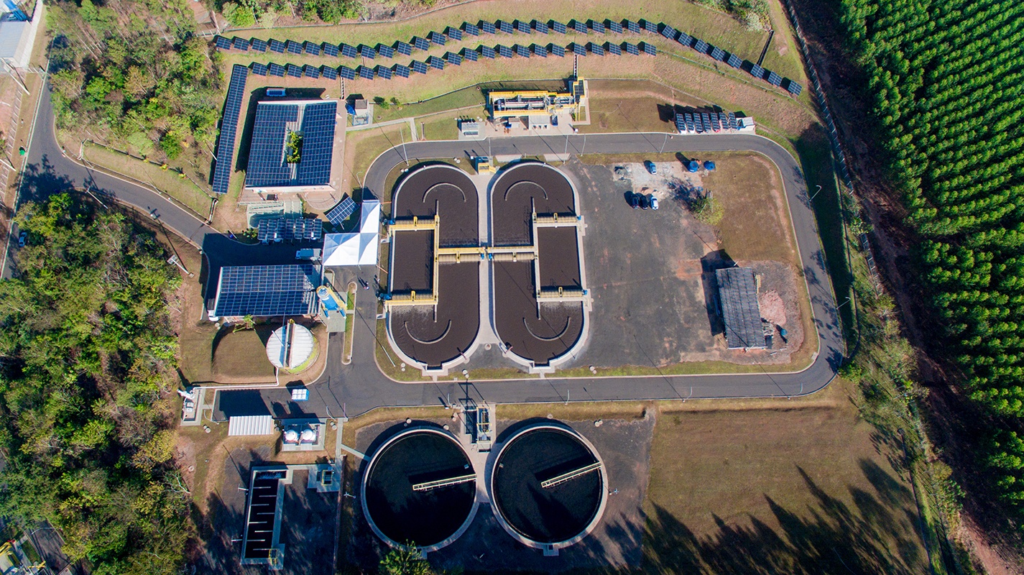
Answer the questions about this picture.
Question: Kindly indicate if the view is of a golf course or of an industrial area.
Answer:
industrial area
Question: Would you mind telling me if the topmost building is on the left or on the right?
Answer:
left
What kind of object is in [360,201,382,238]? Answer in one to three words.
tent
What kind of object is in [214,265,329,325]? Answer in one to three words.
building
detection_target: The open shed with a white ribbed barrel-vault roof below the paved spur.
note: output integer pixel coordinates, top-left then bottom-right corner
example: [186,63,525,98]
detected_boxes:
[229,415,279,437]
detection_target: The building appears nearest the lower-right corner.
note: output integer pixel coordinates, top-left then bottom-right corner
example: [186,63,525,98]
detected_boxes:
[713,267,766,351]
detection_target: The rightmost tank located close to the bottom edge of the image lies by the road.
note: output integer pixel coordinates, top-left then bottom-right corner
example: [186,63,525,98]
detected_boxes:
[486,421,612,560]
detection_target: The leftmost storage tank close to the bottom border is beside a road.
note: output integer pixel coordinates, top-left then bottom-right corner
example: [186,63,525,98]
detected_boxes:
[358,425,484,563]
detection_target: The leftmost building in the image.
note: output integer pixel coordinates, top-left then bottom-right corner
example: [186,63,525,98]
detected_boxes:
[0,21,36,69]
